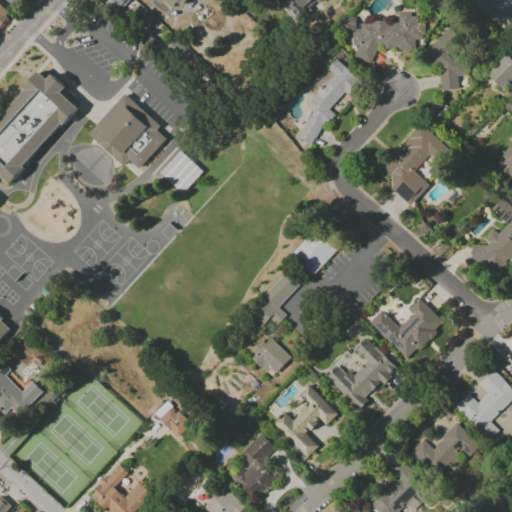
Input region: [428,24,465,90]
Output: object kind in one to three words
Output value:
house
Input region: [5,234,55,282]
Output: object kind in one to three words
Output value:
basketball court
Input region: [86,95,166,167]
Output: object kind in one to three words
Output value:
building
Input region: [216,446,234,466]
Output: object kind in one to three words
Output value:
swimming pool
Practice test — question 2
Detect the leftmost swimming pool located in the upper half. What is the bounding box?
[289,93,305,120]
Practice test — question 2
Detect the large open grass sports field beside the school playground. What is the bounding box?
[112,133,308,370]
